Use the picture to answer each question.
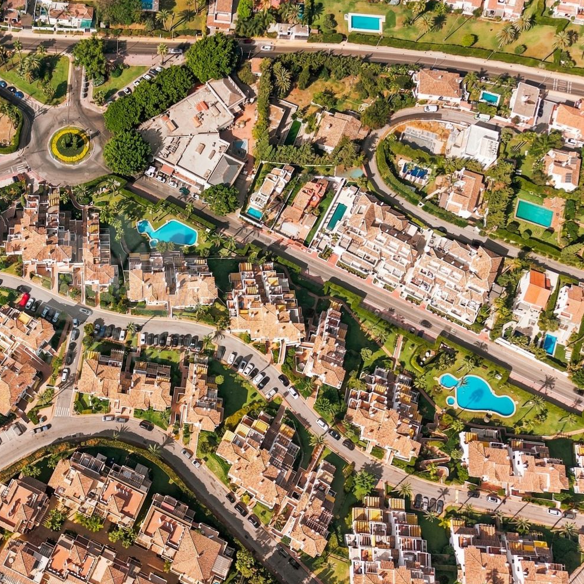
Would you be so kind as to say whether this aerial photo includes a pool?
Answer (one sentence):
Yes, the image includes a pool.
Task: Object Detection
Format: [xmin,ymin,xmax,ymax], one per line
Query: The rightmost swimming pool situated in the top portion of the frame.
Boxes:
[513,197,556,229]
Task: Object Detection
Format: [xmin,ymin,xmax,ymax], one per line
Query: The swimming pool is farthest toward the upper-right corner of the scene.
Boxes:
[480,89,501,106]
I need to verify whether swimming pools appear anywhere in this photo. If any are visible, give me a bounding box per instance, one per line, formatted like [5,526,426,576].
[326,201,349,231]
[513,197,556,229]
[455,372,518,418]
[405,159,433,182]
[139,0,158,11]
[541,332,560,356]
[349,12,382,32]
[439,371,459,389]
[245,203,266,221]
[230,138,249,156]
[445,394,457,407]
[480,89,501,106]
[134,218,199,248]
